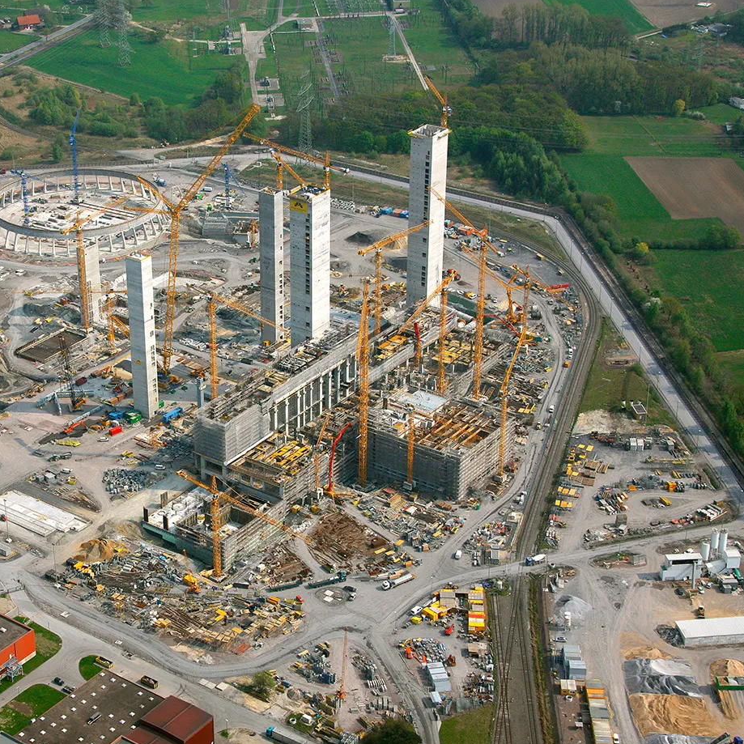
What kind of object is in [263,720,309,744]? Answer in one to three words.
truck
